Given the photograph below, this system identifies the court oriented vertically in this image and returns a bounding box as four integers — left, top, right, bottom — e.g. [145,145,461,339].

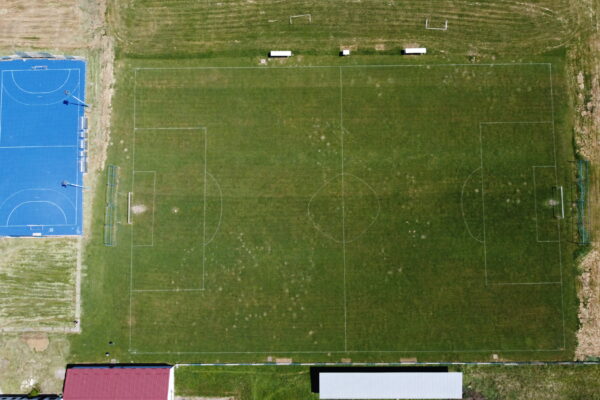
[0,59,88,238]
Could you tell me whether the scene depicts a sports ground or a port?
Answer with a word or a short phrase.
sports ground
